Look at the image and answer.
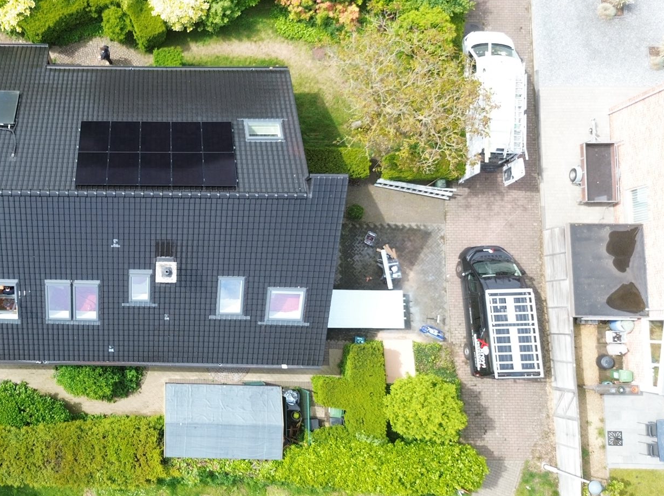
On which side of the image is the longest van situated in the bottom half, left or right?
right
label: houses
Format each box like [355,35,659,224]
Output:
[0,41,349,373]
[609,88,664,389]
